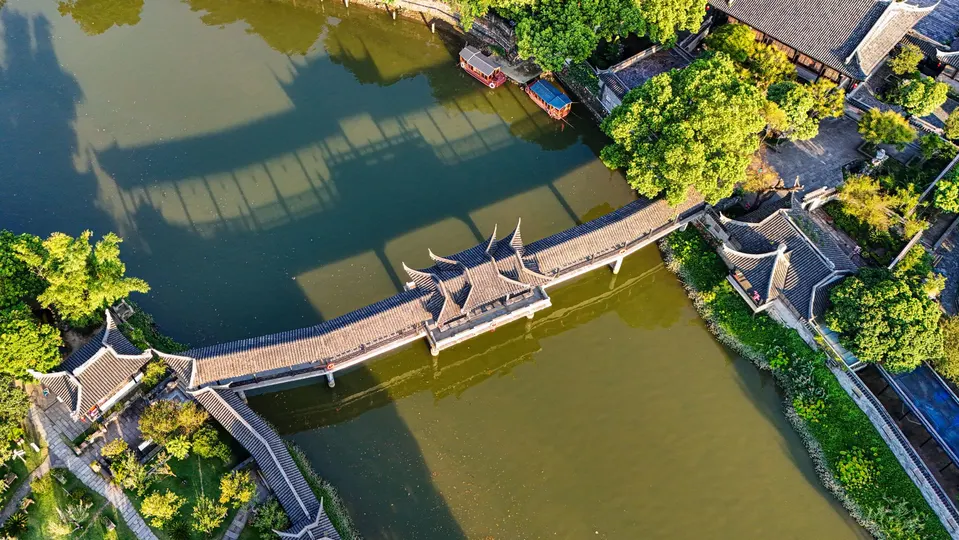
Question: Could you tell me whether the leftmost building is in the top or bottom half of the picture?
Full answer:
The leftmost building sits in the bottom half of the picture.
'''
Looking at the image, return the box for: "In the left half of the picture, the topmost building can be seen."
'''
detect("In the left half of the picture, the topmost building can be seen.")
[23,313,164,431]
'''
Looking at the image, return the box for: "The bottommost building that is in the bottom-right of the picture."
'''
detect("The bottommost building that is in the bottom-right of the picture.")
[869,341,959,490]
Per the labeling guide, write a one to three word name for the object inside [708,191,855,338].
building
